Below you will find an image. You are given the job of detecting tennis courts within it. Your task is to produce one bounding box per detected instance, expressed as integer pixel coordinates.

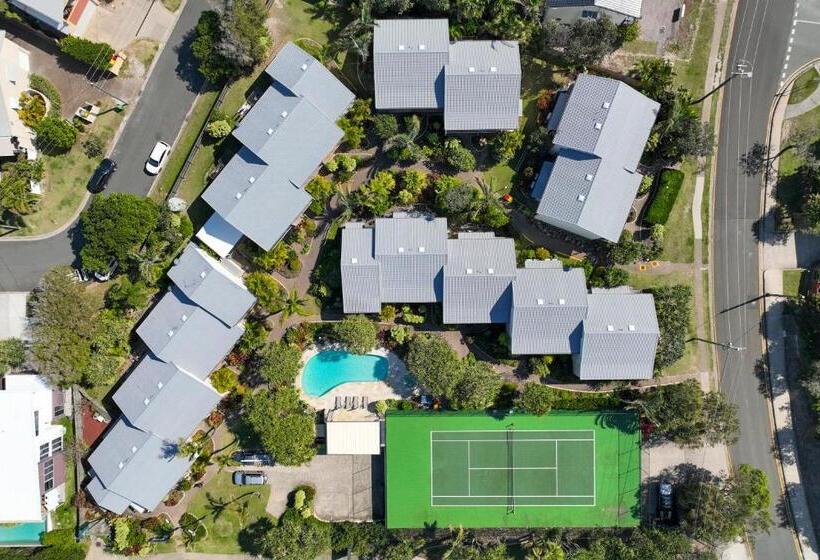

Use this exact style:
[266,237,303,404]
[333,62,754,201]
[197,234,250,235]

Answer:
[385,409,650,539]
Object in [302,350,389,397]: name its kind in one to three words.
swimming pool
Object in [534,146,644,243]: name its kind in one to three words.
house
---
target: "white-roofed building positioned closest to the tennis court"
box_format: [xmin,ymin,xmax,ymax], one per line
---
[328,418,380,454]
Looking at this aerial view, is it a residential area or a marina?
residential area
